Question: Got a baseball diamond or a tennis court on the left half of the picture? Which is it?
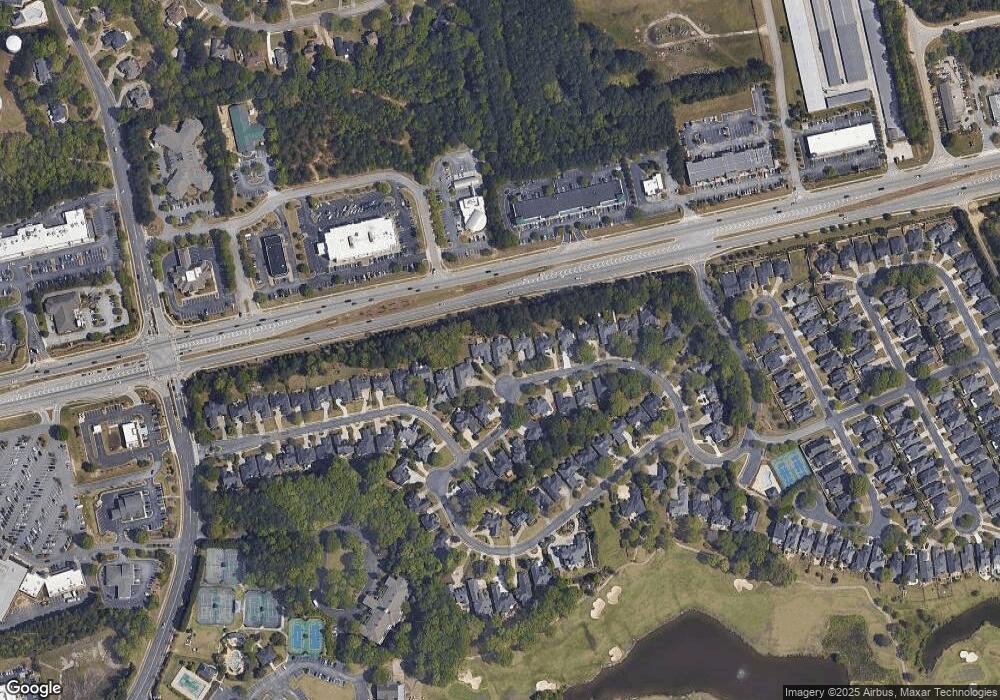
tennis court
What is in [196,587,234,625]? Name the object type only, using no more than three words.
tennis court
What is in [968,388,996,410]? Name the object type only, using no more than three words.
house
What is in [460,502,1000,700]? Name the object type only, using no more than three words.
golf course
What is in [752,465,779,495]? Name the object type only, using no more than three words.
swimming pool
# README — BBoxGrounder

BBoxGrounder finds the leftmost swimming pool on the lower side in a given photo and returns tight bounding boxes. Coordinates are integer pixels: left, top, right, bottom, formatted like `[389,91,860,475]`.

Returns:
[171,667,211,700]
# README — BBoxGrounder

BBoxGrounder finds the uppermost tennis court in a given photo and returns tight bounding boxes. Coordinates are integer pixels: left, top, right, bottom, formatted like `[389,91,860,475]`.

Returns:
[771,449,812,488]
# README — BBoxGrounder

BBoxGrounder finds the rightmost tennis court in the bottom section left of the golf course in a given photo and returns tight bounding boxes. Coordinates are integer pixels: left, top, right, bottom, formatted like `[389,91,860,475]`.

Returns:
[288,618,325,655]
